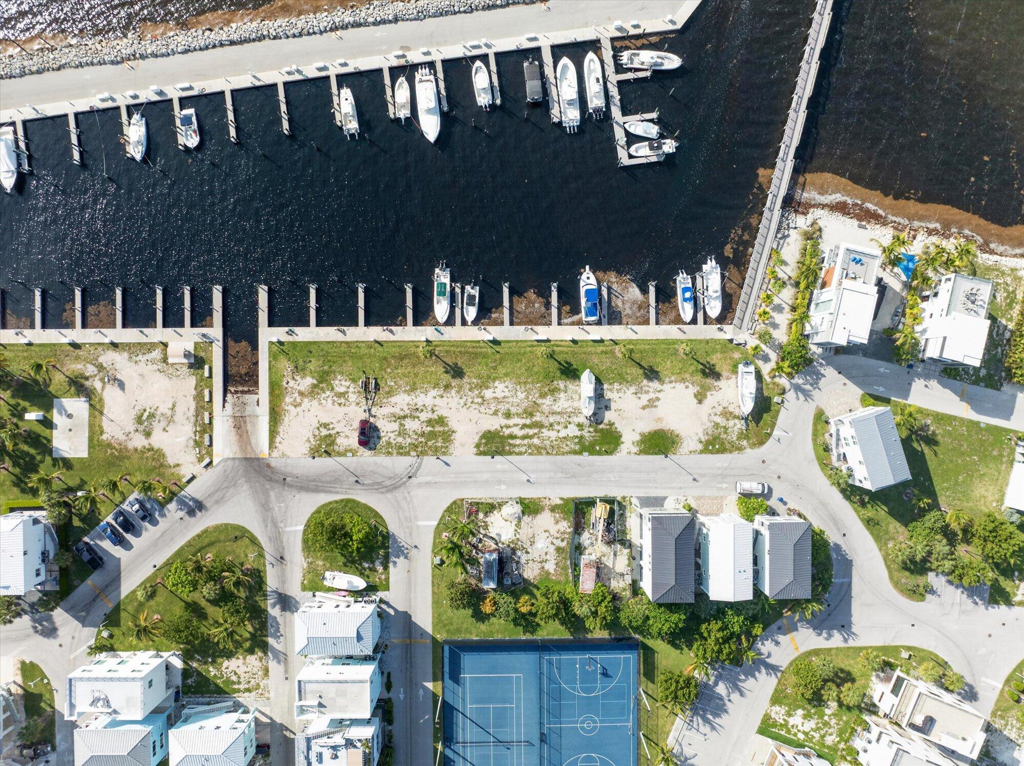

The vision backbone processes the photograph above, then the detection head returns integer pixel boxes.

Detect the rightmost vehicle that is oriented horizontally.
[736,482,769,497]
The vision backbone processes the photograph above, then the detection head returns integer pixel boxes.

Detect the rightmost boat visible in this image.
[890,301,905,326]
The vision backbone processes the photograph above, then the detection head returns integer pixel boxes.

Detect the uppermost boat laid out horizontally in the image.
[615,46,682,71]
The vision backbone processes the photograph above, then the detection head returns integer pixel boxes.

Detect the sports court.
[442,640,639,766]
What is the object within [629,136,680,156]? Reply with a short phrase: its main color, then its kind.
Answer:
white boat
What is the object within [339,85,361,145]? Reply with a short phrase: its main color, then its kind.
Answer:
white boat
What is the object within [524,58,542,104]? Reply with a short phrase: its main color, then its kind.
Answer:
gray boat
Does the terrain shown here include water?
Yes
